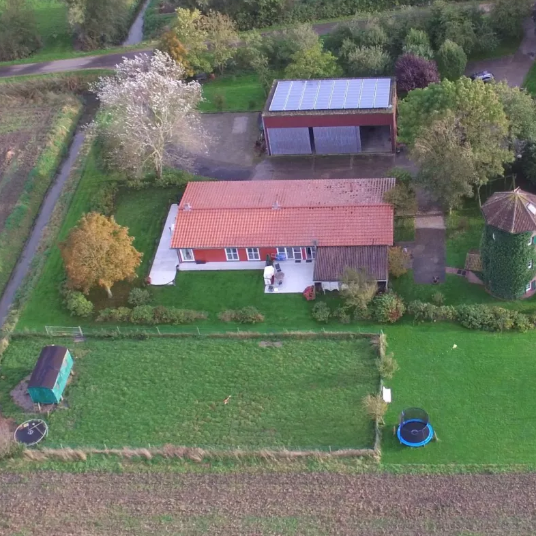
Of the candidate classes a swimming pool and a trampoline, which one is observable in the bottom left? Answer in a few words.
trampoline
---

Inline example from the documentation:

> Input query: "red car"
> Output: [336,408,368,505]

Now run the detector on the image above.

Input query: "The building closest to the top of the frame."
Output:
[260,78,396,155]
